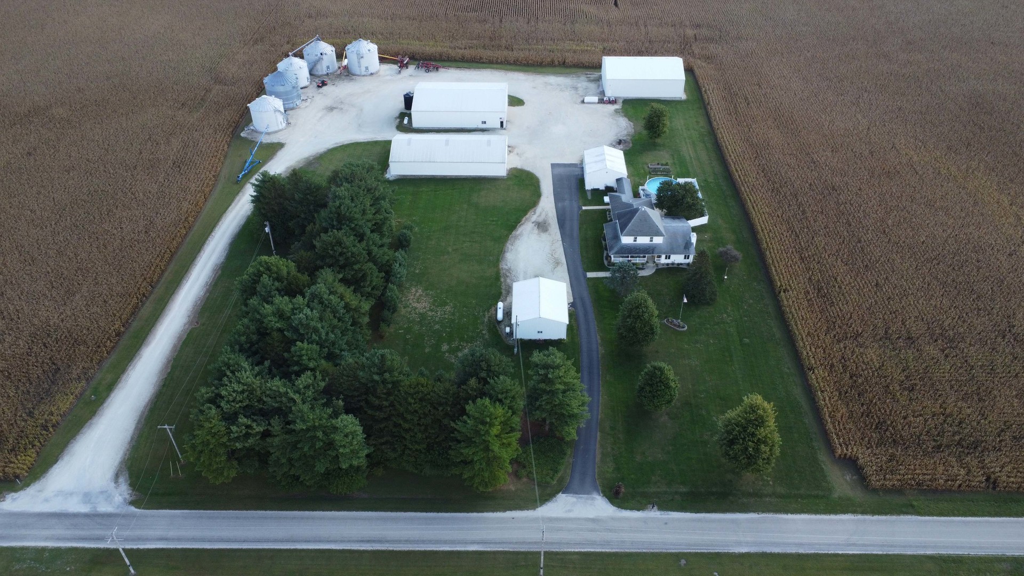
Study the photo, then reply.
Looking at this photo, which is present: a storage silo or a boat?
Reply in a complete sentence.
It is a storage silo that can be seen here.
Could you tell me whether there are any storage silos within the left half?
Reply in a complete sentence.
Yes, within the left half there is a storage silo.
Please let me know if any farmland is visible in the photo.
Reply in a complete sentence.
Yes, the picture does contain farmland.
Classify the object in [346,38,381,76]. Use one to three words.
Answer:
silo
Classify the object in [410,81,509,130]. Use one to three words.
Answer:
shed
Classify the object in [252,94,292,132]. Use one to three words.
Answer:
silo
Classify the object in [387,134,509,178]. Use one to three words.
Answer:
shed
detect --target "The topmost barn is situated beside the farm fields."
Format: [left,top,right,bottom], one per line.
[601,56,687,100]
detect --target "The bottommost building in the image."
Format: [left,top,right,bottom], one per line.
[510,275,569,342]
